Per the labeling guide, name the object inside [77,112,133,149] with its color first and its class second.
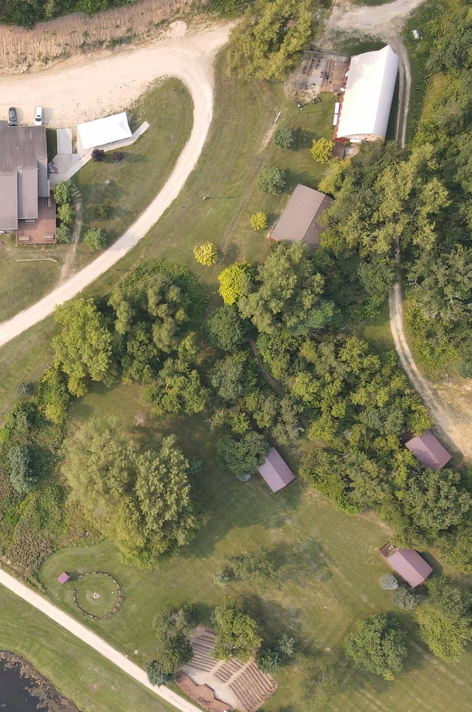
white tent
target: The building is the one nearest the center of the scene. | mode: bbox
[259,448,298,493]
